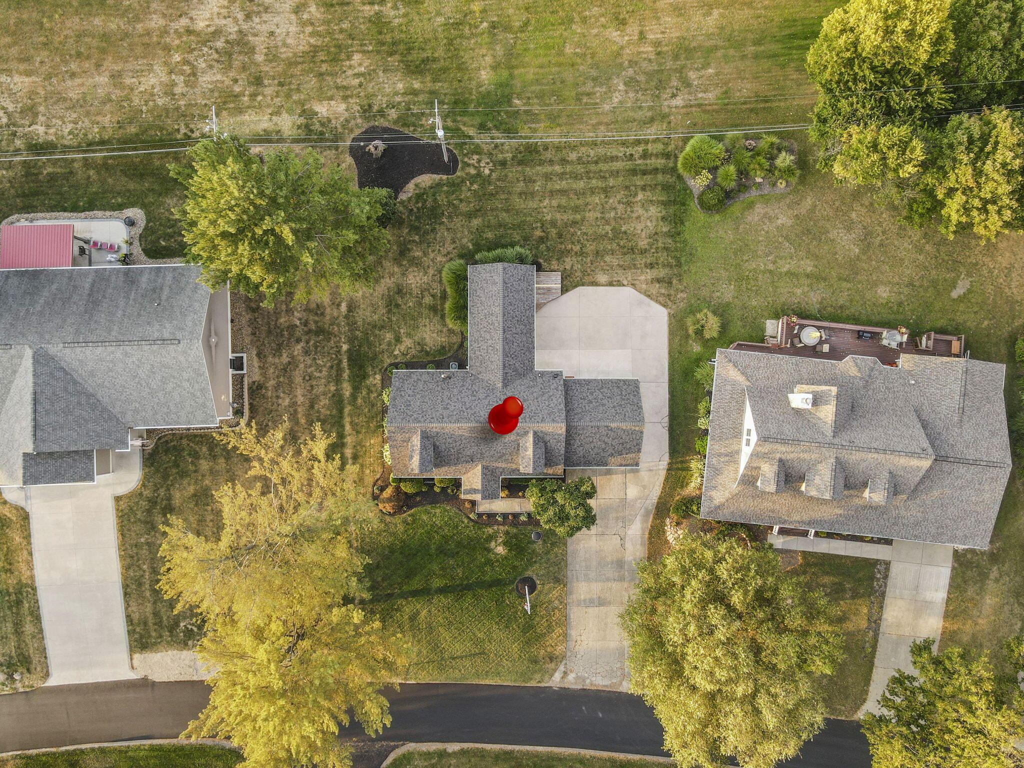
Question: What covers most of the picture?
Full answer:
The scene is dominated by grass.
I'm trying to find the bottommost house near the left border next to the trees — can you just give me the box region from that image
[0,263,248,489]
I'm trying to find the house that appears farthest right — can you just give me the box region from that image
[699,348,1012,550]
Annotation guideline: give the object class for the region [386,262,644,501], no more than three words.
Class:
house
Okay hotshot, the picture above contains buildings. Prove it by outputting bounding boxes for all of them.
[0,263,248,489]
[699,348,1012,550]
[386,262,644,501]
